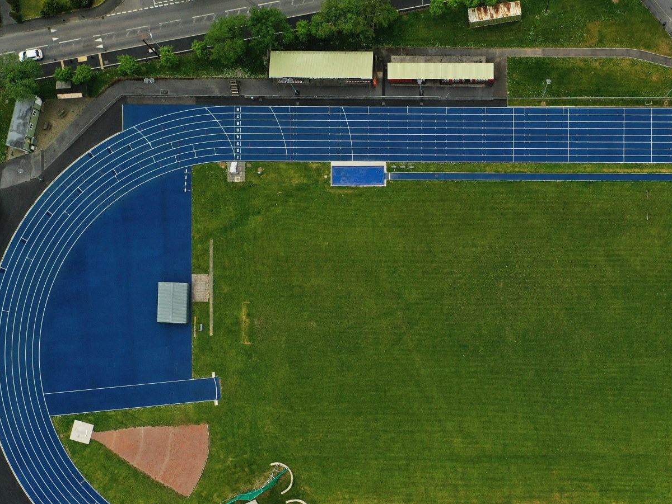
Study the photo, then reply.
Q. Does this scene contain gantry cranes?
No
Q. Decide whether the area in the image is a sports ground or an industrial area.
sports ground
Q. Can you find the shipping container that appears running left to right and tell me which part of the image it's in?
top right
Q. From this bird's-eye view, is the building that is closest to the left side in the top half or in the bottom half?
top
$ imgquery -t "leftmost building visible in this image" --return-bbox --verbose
[5,94,44,152]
